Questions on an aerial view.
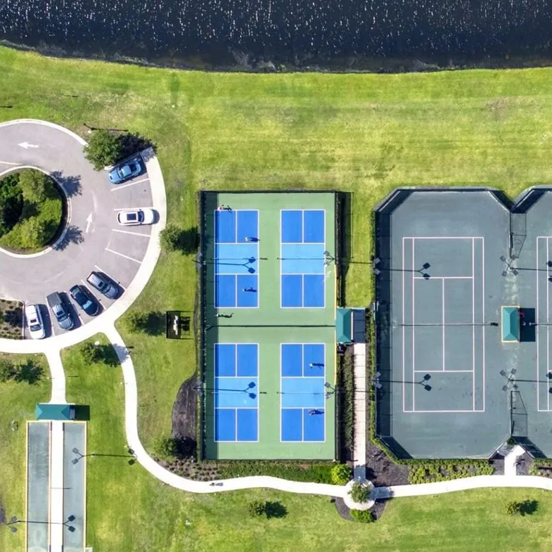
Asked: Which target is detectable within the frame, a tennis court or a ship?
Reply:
tennis court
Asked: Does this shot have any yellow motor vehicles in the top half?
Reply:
No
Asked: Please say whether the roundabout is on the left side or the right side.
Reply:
left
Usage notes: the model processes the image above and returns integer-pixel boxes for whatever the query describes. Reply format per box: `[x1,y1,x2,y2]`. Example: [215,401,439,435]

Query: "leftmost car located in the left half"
[22,303,44,341]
